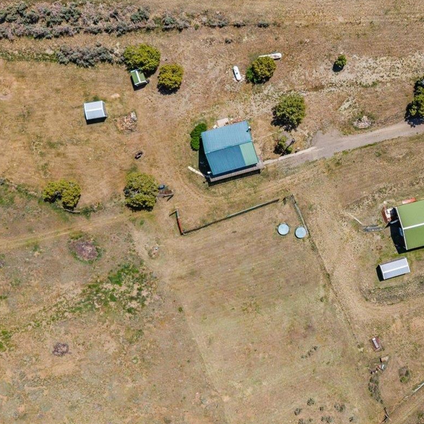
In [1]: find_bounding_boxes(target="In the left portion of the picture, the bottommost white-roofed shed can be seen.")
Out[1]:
[85,101,108,120]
